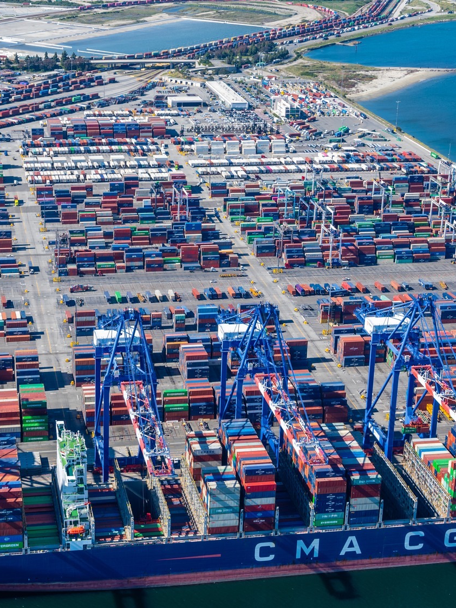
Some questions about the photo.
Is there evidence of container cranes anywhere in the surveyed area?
Yes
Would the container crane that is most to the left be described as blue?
Yes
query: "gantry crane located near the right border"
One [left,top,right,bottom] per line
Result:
[353,292,456,465]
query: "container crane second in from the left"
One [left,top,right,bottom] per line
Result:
[213,299,337,472]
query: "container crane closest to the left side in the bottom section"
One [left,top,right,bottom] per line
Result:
[87,304,179,534]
